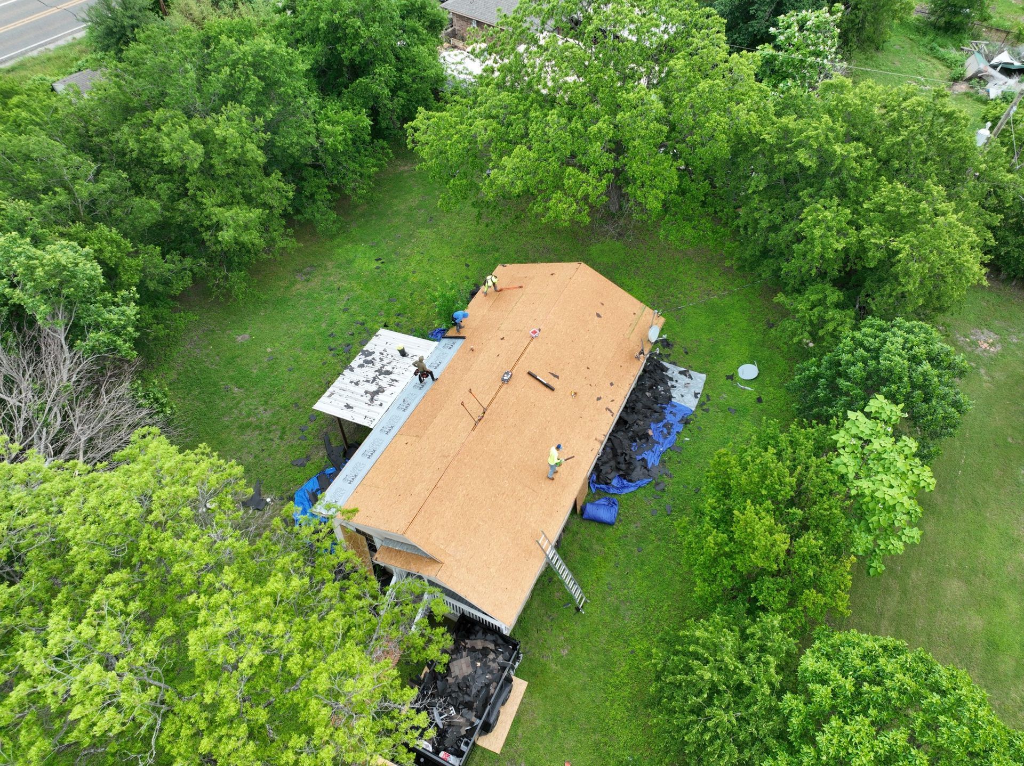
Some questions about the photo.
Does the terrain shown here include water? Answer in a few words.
No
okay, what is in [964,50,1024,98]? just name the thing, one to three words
shed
